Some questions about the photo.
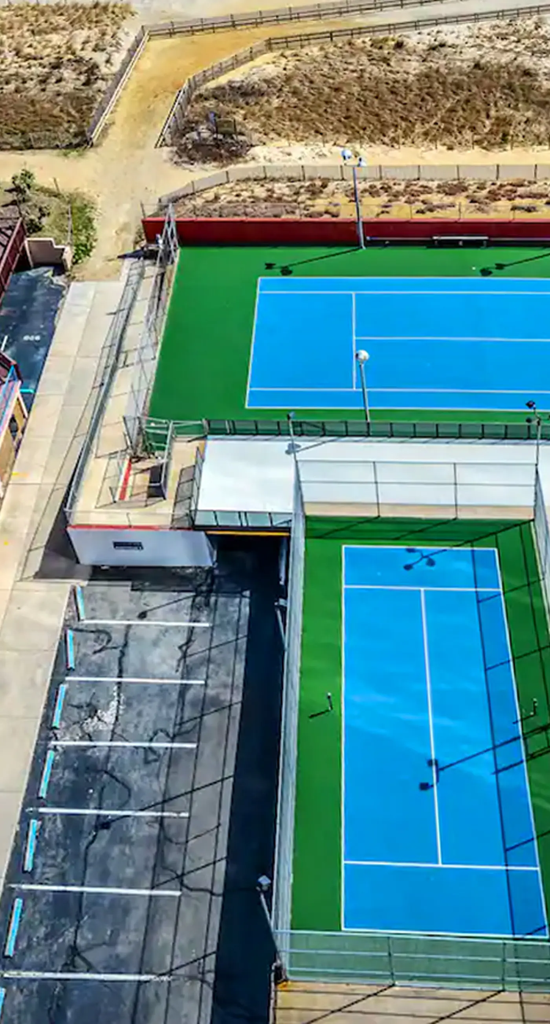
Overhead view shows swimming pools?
No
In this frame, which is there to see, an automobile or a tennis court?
tennis court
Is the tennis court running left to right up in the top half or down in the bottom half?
top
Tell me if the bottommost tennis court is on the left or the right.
right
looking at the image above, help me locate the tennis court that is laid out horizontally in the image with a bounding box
[144,245,550,438]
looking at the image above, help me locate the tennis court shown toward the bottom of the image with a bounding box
[294,516,550,991]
